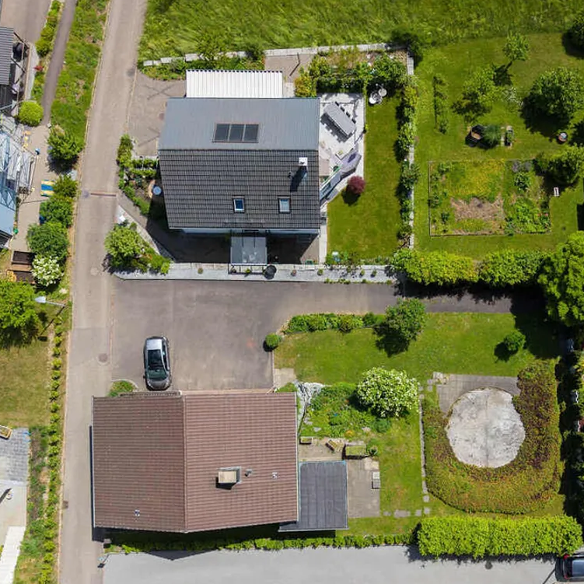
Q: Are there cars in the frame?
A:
Yes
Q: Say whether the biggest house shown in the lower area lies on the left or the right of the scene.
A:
left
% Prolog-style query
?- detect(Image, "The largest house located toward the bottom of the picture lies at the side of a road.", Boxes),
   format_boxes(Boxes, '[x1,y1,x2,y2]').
[91,393,300,534]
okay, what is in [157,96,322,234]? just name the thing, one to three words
house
